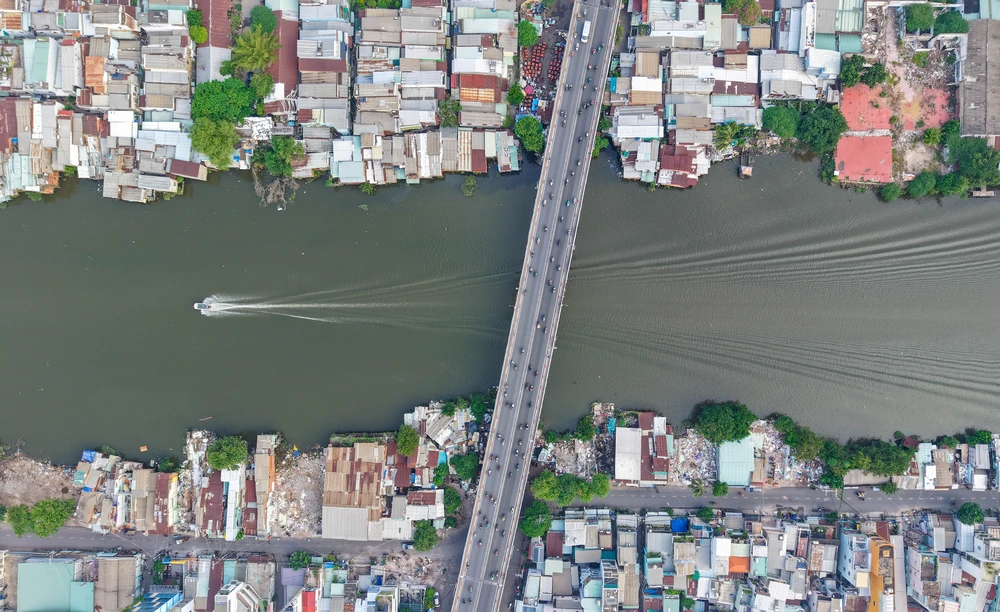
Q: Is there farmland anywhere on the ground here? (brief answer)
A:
No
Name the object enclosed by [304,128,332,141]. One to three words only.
house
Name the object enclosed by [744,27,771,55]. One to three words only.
house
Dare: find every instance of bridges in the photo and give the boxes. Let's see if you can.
[450,0,622,612]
